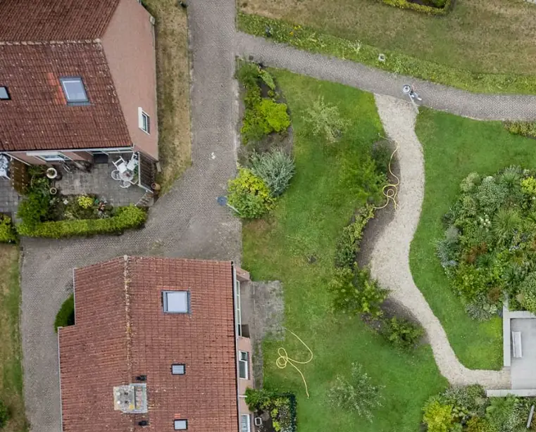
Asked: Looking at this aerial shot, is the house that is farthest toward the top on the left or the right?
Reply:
left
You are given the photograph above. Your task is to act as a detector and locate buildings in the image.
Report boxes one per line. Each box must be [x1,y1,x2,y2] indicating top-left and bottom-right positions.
[56,254,258,432]
[0,0,160,162]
